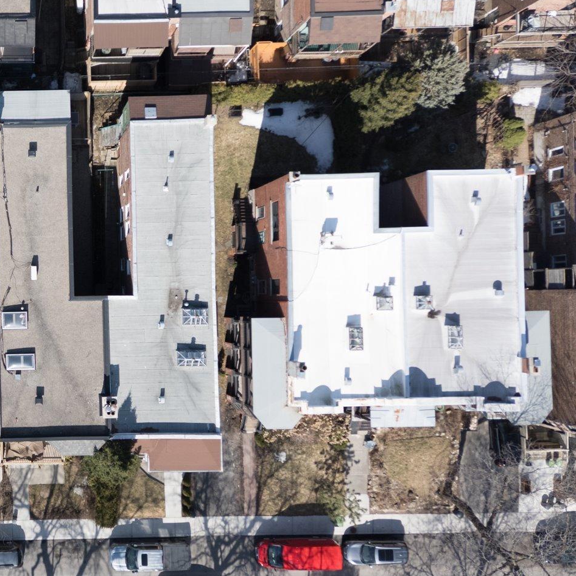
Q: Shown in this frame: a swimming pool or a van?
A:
van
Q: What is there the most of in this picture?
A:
buildings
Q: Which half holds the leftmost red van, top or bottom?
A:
bottom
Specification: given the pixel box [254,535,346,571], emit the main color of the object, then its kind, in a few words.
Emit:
red van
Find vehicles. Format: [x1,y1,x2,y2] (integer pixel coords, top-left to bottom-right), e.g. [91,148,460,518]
[0,541,23,568]
[341,536,406,568]
[254,535,346,571]
[486,417,520,478]
[109,538,188,573]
